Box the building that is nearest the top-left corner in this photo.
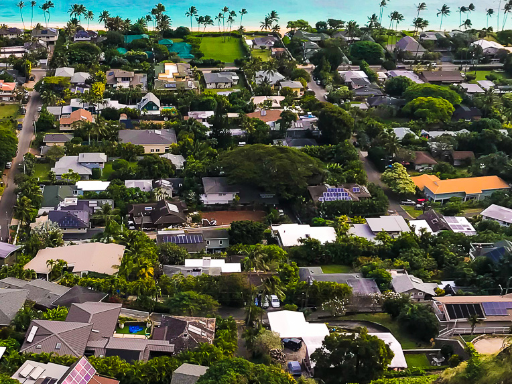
[0,26,29,45]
